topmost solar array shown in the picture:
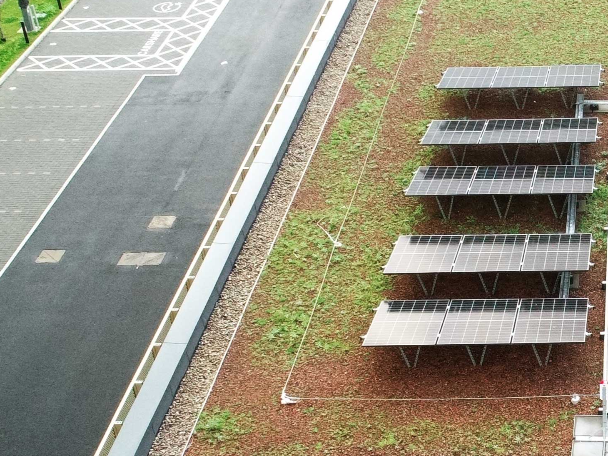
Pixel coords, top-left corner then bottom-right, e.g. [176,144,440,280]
[433,69,604,109]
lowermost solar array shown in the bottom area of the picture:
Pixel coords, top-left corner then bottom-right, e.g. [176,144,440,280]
[358,301,593,364]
